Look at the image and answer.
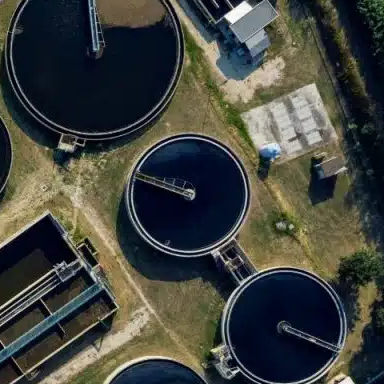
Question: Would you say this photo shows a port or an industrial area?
industrial area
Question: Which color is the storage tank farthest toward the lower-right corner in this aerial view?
black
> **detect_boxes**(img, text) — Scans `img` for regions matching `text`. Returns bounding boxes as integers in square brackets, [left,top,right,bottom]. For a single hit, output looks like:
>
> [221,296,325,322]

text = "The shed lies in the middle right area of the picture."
[312,156,345,181]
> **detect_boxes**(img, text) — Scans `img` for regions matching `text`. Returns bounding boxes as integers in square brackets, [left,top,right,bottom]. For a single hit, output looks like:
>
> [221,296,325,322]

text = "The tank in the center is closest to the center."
[124,133,250,257]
